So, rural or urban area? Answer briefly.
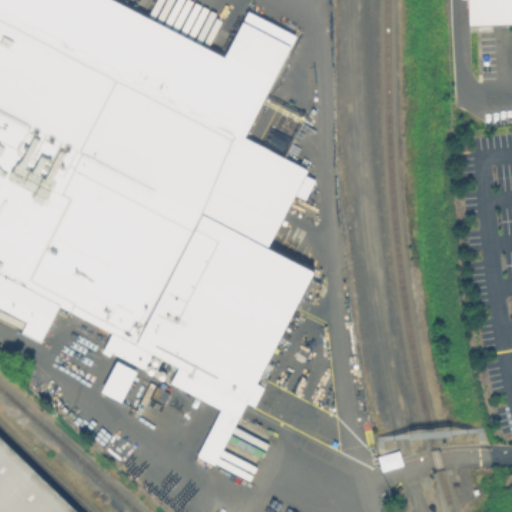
urban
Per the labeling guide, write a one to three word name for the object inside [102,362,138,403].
shed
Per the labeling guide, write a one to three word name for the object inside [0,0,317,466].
building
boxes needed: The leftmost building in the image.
[0,437,78,512]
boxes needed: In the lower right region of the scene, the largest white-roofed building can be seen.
[380,451,404,473]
